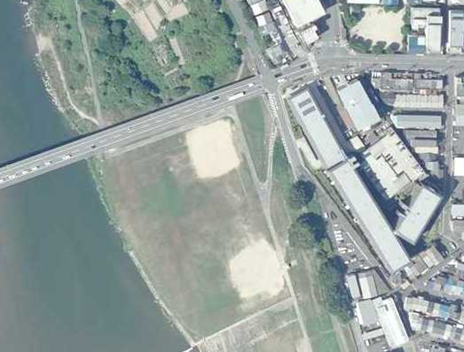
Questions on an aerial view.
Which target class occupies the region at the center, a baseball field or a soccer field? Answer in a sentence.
The feature located at the center is a baseball field.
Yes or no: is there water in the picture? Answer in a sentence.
Yes, the picture does contain water.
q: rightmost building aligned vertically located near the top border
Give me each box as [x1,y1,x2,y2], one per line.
[446,10,464,49]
